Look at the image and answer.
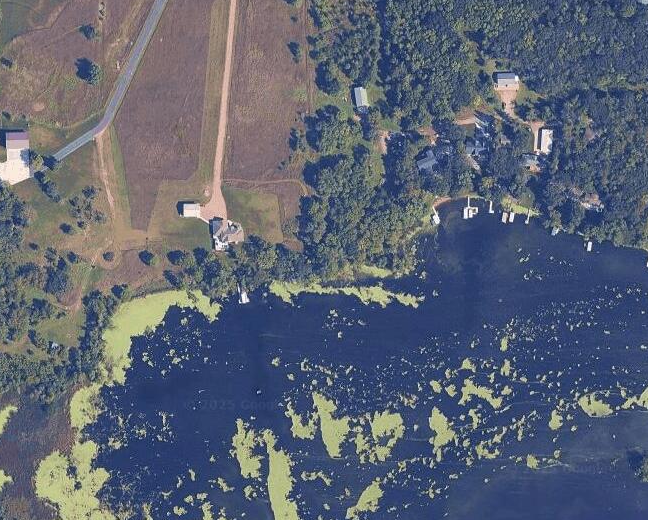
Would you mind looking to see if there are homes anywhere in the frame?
Yes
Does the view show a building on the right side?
Yes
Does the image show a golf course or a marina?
marina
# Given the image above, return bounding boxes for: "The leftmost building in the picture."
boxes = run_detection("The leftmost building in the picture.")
[6,132,29,149]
